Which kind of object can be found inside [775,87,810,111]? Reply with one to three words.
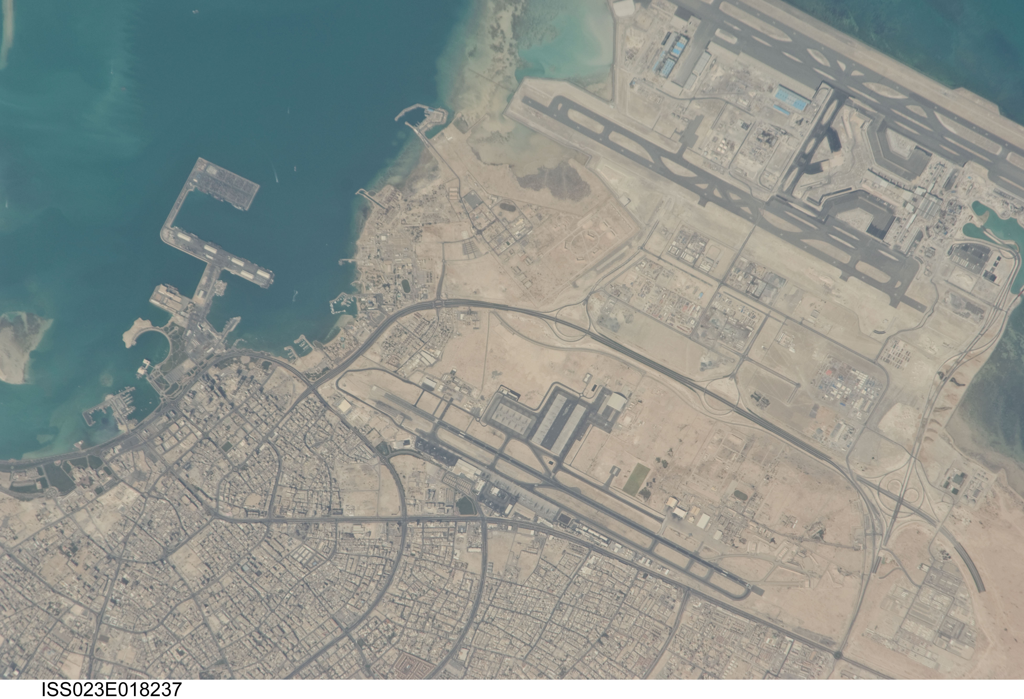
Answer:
building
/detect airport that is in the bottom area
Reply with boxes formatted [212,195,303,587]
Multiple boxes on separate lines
[371,385,809,601]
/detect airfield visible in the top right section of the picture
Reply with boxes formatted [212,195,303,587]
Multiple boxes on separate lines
[516,0,1024,312]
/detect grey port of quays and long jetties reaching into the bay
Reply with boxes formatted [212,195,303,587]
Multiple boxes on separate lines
[160,157,274,314]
